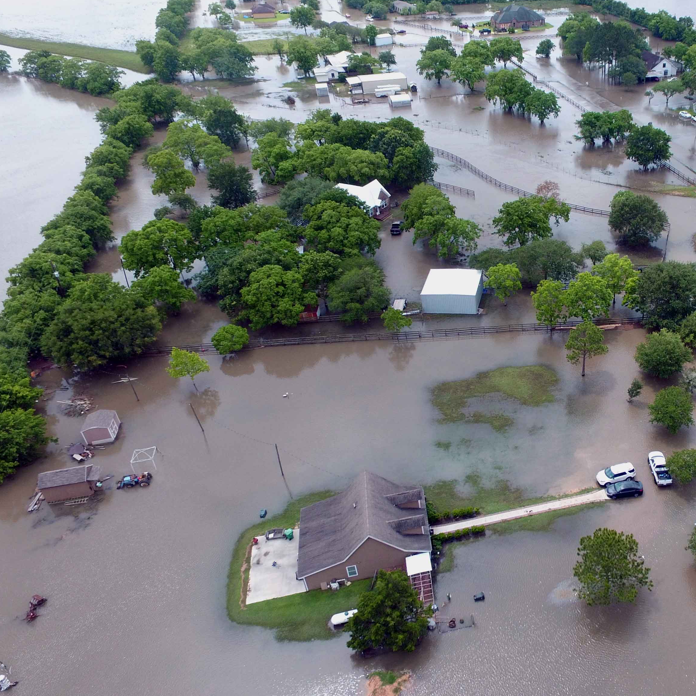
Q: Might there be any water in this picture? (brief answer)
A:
Yes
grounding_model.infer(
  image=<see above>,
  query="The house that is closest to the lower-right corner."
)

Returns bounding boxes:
[296,469,431,591]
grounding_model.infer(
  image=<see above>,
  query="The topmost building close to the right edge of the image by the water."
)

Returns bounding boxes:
[634,48,690,83]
